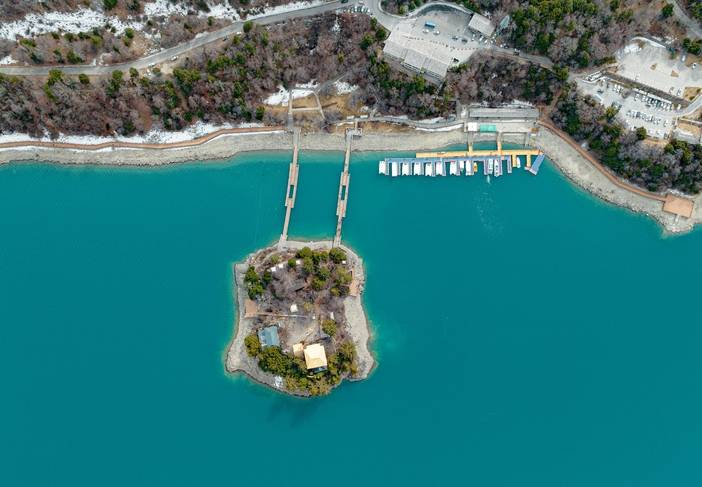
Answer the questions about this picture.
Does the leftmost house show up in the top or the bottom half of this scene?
bottom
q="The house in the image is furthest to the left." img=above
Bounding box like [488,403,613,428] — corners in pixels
[258,325,281,353]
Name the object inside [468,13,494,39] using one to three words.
building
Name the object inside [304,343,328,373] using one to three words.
building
